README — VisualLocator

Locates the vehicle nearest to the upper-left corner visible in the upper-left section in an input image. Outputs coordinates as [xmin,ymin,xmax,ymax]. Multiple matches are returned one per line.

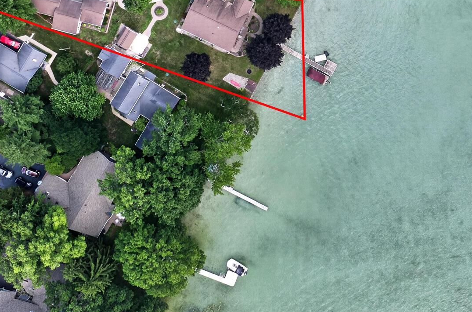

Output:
[0,34,22,49]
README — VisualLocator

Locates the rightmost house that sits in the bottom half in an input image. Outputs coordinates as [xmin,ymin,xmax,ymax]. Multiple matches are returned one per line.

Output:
[31,151,115,238]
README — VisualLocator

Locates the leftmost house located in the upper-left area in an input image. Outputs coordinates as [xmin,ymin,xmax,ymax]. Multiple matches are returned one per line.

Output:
[0,42,49,90]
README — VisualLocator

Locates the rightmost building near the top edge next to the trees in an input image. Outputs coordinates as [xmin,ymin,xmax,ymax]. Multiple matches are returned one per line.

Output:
[172,0,254,53]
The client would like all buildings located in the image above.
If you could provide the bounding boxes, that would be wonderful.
[0,42,49,90]
[110,70,181,151]
[31,151,115,238]
[172,0,254,53]
[0,278,49,312]
[115,26,139,51]
[30,0,109,35]
[98,45,132,79]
